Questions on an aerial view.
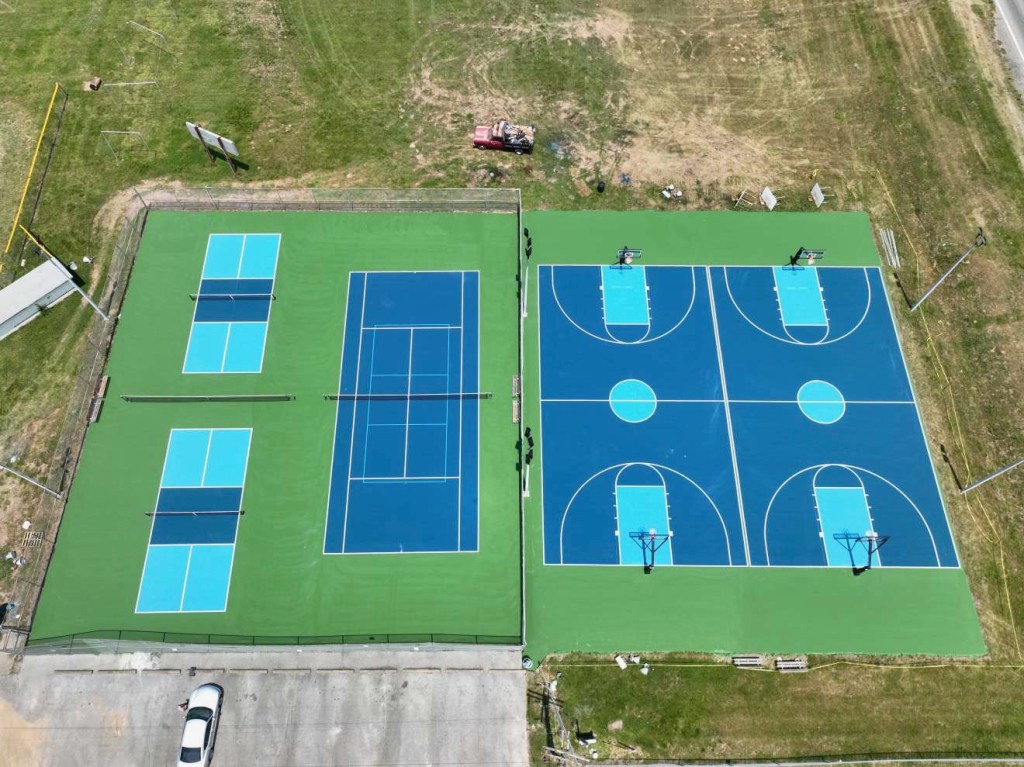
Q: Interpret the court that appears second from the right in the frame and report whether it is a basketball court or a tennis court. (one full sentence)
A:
I'd say the court that appears second from the right is a basketball court.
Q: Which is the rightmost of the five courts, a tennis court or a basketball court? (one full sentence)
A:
The rightmost of the five courts can be classified as a basketball court.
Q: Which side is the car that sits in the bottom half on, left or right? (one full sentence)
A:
It is on the left.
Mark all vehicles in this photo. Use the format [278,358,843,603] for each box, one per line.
[178,684,224,767]
[473,123,537,155]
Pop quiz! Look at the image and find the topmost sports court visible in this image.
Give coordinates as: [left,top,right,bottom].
[183,234,281,373]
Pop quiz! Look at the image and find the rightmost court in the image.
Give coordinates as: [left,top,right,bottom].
[710,266,959,567]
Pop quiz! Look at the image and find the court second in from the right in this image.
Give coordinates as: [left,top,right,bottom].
[537,265,751,566]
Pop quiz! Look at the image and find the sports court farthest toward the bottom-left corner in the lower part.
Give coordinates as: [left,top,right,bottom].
[135,428,252,613]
